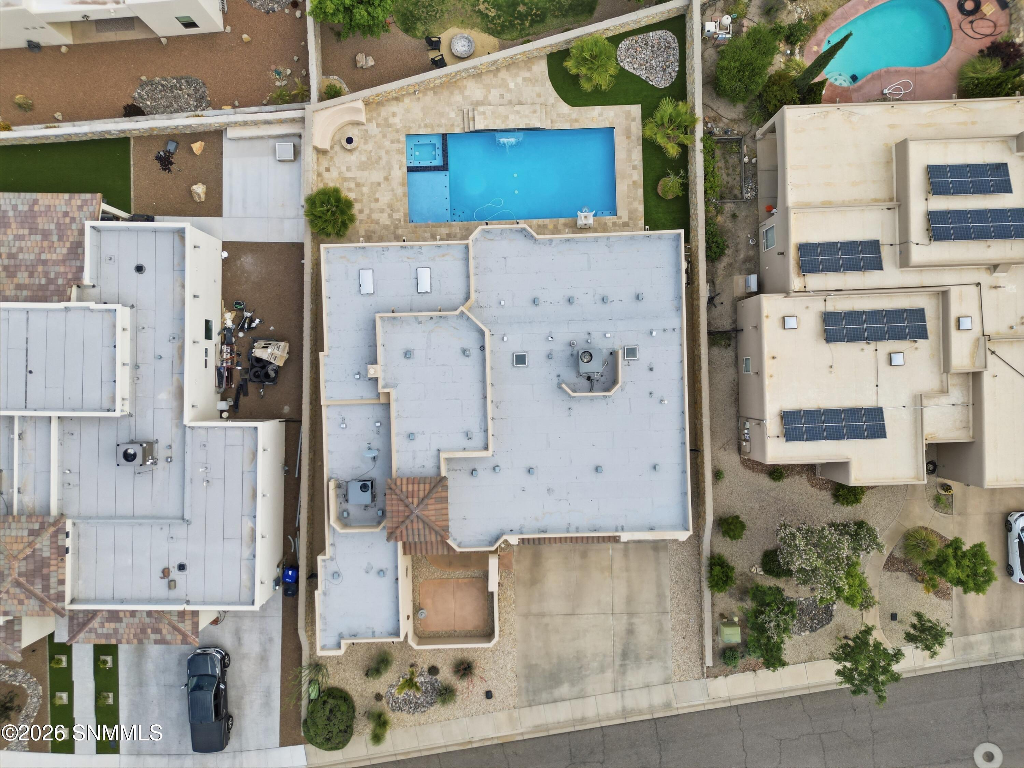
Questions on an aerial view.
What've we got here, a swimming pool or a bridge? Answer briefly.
swimming pool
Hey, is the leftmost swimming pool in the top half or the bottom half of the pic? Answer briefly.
top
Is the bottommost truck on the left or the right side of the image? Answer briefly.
left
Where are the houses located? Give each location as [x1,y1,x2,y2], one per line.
[737,87,1024,488]
[0,0,224,41]
[315,216,692,655]
[0,192,287,663]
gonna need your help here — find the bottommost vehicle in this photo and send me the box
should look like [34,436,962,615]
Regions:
[179,641,235,754]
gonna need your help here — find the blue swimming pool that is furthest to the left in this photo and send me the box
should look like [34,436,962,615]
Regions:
[405,127,617,223]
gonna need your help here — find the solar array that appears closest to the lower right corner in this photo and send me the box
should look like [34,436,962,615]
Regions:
[782,407,886,442]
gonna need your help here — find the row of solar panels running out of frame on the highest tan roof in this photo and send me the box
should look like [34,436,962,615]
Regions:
[928,208,1024,242]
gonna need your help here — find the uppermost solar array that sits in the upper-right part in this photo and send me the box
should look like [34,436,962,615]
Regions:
[926,163,1012,197]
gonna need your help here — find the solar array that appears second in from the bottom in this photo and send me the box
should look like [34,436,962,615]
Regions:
[823,308,928,343]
